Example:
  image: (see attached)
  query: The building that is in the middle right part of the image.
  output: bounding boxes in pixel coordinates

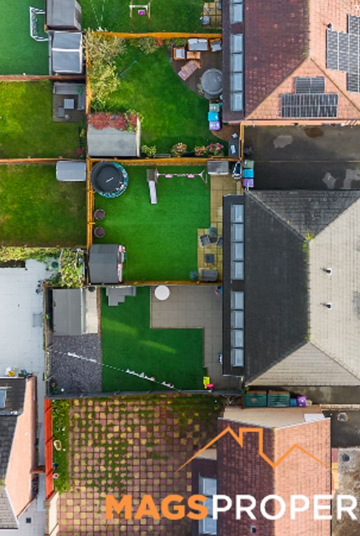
[221,188,360,387]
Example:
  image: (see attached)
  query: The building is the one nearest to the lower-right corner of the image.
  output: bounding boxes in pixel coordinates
[190,403,333,536]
